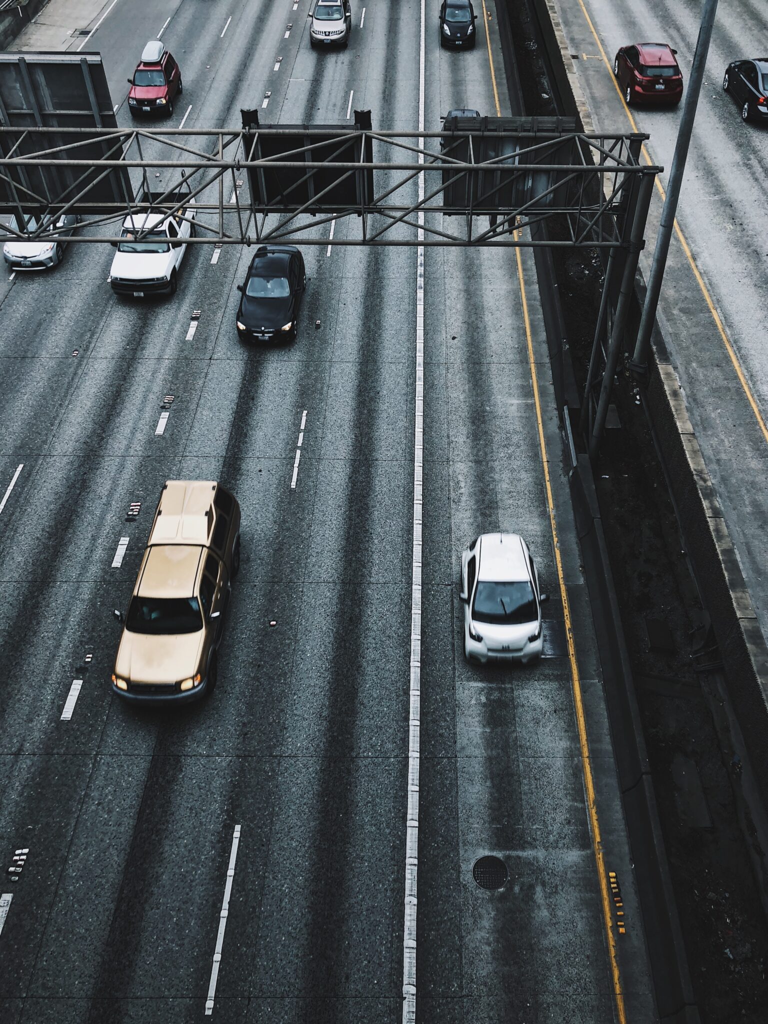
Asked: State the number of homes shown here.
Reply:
0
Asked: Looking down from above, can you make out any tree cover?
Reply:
No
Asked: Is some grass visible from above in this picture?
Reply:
No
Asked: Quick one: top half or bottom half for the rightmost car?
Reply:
top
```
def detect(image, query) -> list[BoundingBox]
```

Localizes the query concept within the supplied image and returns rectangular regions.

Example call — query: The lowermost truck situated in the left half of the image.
[107,477,241,701]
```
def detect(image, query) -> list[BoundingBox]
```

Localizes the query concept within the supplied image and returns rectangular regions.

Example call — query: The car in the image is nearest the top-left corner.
[125,51,183,115]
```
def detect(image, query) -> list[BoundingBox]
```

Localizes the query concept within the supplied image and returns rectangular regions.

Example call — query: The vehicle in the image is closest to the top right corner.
[721,60,768,118]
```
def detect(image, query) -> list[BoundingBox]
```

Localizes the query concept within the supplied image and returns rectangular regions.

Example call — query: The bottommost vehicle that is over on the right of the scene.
[455,534,553,665]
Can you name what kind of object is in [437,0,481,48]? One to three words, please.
car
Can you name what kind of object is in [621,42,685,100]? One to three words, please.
car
